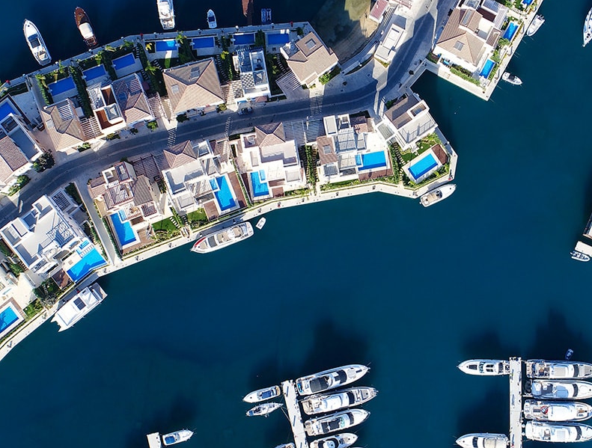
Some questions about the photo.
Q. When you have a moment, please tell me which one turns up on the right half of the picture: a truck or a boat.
boat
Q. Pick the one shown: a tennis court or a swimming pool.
swimming pool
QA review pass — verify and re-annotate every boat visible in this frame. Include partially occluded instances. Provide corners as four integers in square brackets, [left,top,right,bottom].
[155,0,176,32]
[310,434,360,448]
[190,225,258,253]
[241,385,283,402]
[581,5,592,50]
[75,7,100,49]
[525,379,592,400]
[207,9,217,29]
[277,442,295,448]
[522,358,592,379]
[522,420,592,443]
[453,358,509,375]
[300,389,379,415]
[22,17,52,68]
[50,281,110,333]
[256,217,267,228]
[522,399,592,421]
[527,16,545,35]
[502,71,523,85]
[570,249,590,262]
[304,408,373,434]
[565,349,572,359]
[246,403,283,417]
[295,366,371,394]
[451,432,510,448]
[162,429,193,446]
[420,184,460,205]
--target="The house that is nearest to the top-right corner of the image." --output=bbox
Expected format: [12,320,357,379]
[436,0,509,71]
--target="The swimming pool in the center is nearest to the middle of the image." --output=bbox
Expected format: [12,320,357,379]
[241,169,285,199]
